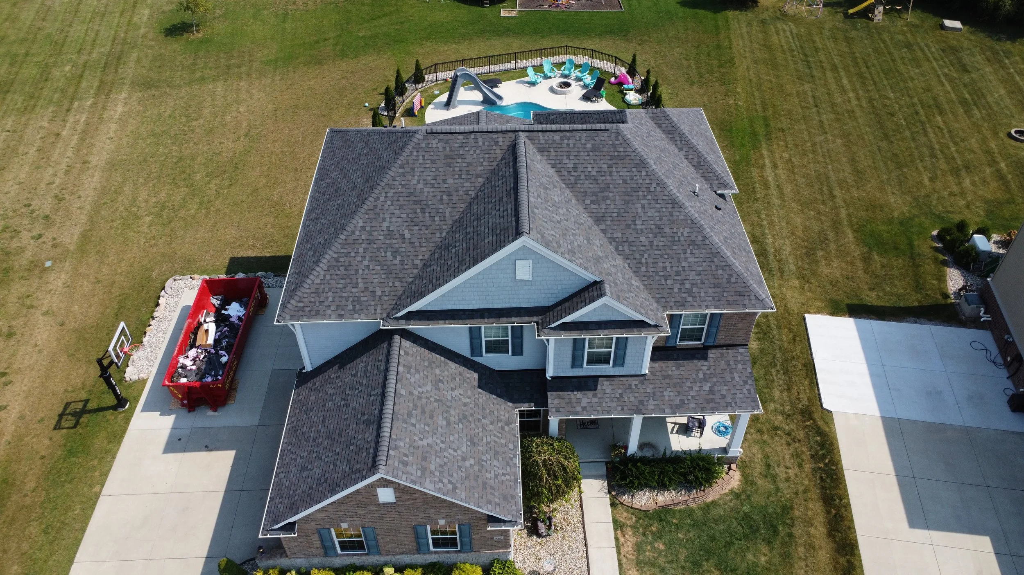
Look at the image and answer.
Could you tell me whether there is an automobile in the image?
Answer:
No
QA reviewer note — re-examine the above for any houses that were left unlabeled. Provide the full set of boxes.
[257,106,776,575]
[981,217,1024,390]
